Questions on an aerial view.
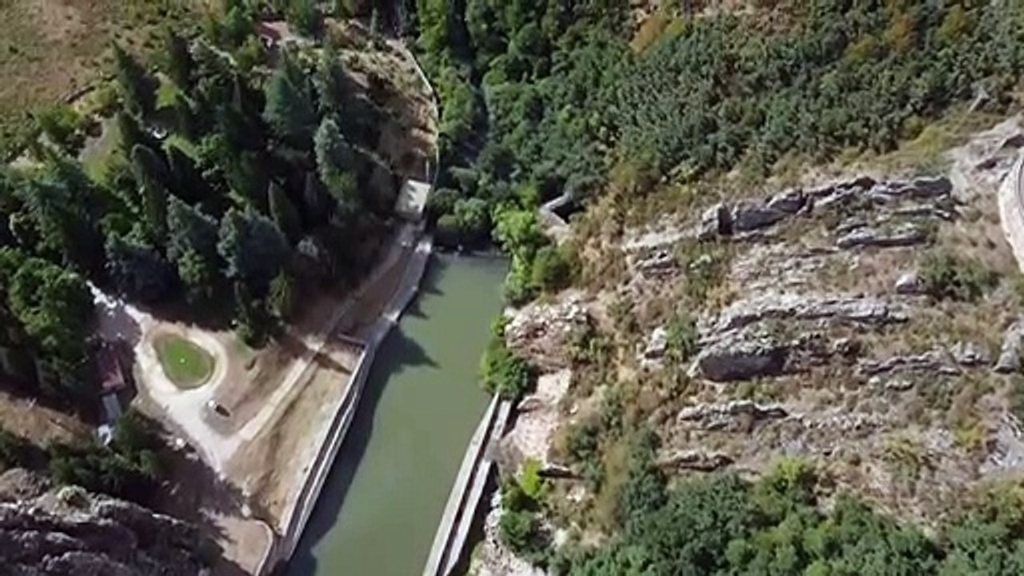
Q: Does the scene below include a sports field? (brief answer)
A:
No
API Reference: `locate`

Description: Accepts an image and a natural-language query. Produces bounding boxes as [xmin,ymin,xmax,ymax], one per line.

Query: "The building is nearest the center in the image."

[542,194,572,226]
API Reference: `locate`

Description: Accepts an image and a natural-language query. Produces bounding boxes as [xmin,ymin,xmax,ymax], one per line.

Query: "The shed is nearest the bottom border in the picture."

[103,395,130,428]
